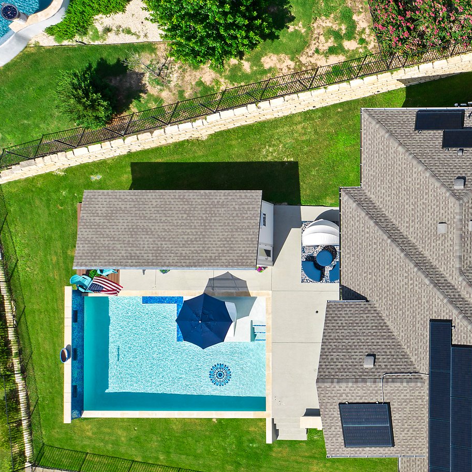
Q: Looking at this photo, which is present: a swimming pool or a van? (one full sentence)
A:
The image shows a swimming pool.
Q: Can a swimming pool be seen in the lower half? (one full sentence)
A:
Yes, I can see a swimming pool in the lower half.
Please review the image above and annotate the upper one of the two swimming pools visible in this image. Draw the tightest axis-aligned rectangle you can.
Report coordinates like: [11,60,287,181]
[0,0,77,73]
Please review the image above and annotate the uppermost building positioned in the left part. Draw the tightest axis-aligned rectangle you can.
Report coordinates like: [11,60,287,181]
[78,190,276,270]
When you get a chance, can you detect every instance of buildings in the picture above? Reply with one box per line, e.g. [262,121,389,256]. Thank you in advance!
[317,105,472,472]
[78,190,276,270]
